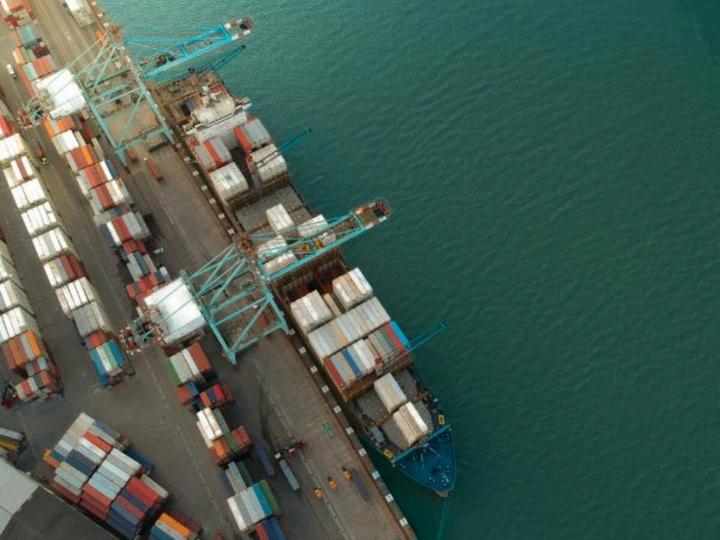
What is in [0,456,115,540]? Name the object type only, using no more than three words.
shed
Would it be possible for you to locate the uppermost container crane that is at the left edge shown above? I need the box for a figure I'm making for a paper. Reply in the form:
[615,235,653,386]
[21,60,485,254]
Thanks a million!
[17,18,259,169]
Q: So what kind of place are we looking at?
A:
port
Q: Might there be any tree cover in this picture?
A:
No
